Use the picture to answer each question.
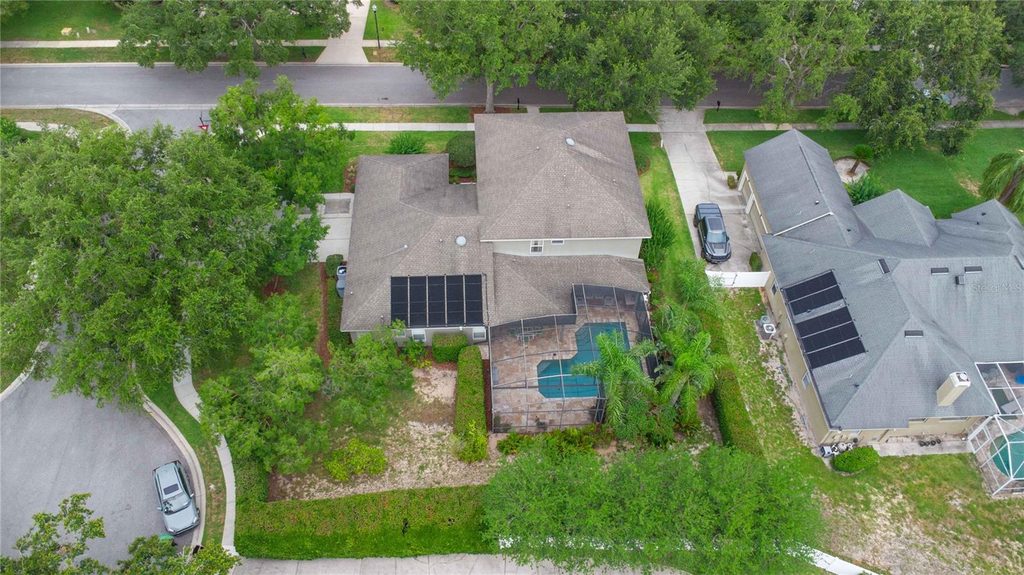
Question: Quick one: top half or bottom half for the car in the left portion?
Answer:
bottom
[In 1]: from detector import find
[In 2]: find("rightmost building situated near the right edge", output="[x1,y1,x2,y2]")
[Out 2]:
[741,132,1024,445]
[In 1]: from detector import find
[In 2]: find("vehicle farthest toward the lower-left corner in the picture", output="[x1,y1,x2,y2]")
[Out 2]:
[154,464,199,538]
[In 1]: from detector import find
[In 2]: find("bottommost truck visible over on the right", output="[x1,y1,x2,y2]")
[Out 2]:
[695,205,731,263]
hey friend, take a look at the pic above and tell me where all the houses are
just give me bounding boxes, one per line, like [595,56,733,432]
[340,110,652,348]
[741,132,1024,445]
